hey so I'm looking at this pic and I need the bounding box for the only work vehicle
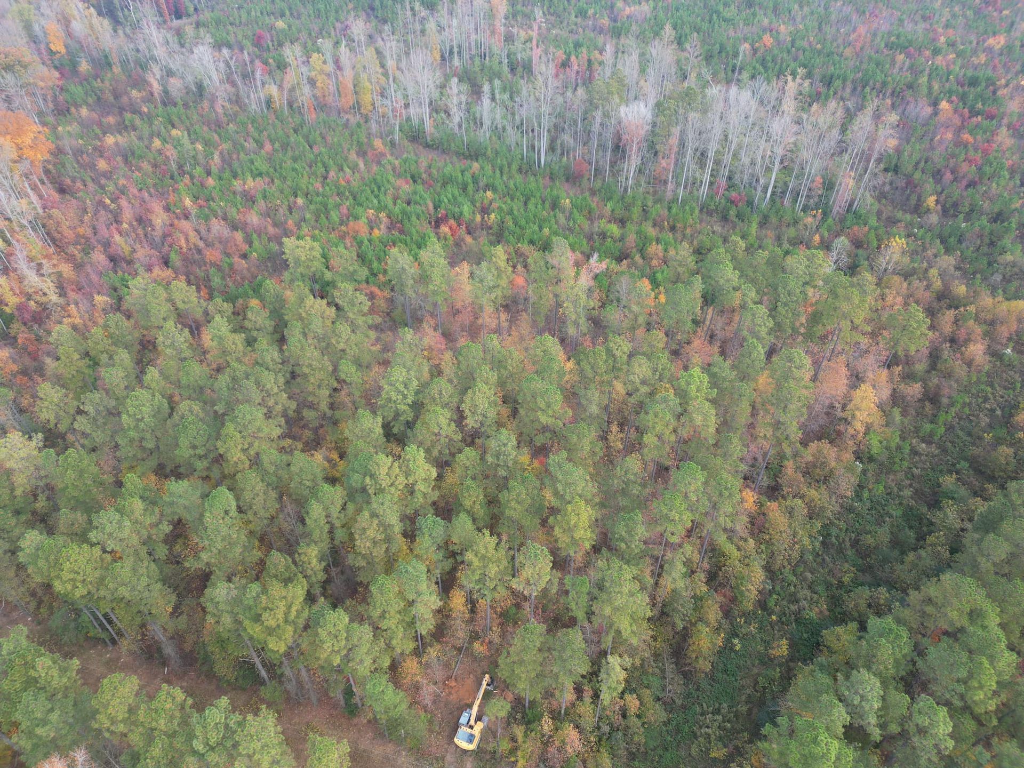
[453,672,500,757]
